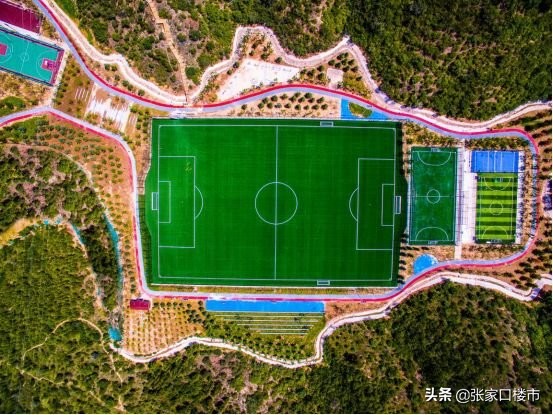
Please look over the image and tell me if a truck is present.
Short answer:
No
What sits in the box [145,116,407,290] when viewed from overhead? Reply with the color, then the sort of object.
green soccer field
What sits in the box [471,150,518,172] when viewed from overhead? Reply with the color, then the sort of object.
blue sports court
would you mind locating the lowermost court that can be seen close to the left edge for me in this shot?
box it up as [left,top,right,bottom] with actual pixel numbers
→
[0,32,64,84]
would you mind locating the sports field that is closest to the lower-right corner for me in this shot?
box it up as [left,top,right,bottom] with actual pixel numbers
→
[475,173,518,244]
